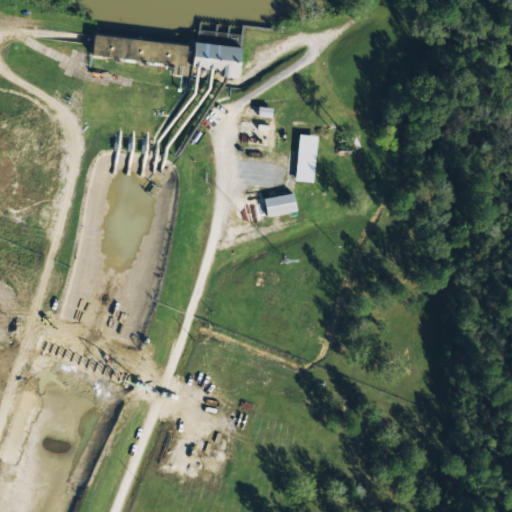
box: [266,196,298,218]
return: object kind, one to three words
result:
shed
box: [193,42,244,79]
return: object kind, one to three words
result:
building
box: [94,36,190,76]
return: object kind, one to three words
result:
building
